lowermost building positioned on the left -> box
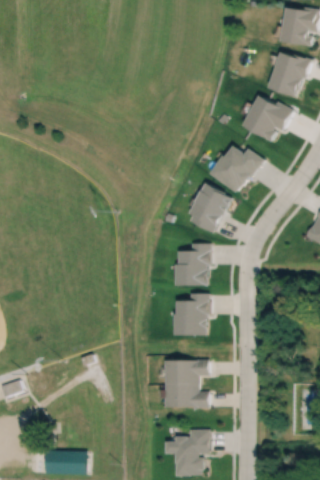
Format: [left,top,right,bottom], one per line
[43,449,94,474]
